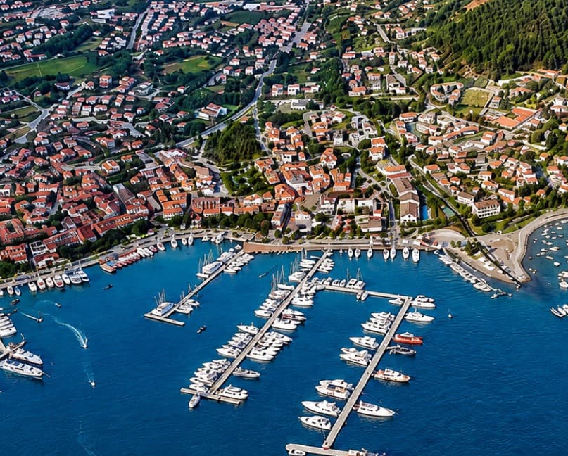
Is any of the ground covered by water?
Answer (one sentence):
Yes, water shows up in the scene.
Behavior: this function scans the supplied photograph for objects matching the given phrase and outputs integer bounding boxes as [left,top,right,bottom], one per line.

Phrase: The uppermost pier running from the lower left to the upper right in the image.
[161,250,245,317]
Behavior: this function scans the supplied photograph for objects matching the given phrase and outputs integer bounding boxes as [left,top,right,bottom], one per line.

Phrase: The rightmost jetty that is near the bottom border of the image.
[324,295,415,450]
